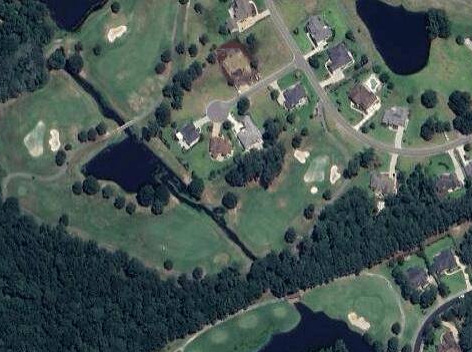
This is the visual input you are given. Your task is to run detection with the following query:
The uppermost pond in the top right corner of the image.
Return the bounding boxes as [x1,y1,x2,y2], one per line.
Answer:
[356,0,431,75]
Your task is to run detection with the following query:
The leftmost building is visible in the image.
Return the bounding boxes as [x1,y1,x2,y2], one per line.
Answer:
[178,122,201,147]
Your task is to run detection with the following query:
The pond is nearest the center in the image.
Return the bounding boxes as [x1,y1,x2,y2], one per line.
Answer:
[81,137,205,206]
